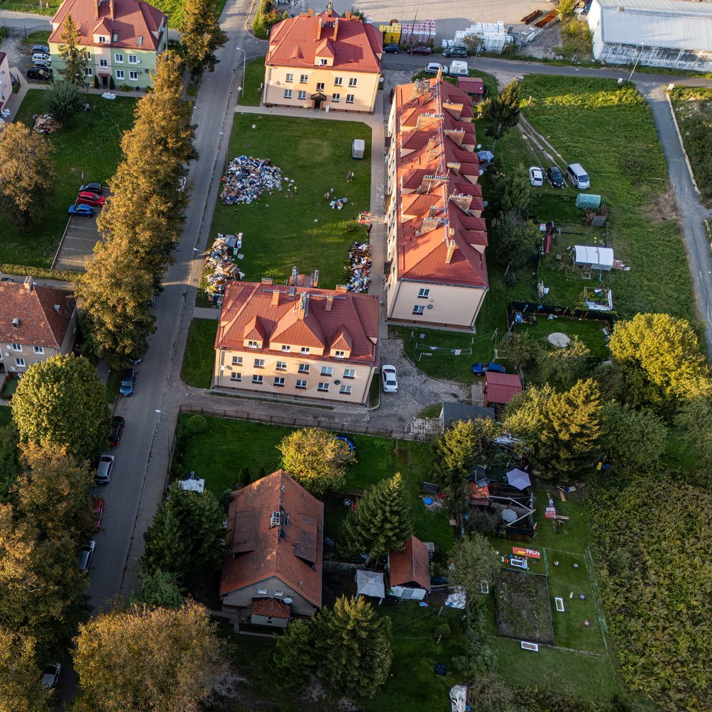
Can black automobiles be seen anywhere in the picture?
Yes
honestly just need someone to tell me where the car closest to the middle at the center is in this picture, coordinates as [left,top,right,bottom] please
[382,365,398,395]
